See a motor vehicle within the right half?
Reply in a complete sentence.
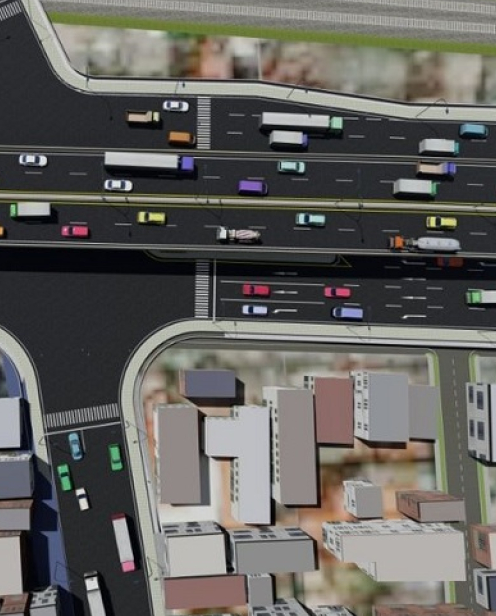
Yes, you'll find a motor vehicle within the right half.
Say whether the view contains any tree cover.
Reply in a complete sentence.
No, tree cover can't be seen anywhere here.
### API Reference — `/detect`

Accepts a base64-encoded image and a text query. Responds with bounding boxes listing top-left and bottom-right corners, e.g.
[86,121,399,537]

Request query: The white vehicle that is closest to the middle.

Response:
[240,304,267,316]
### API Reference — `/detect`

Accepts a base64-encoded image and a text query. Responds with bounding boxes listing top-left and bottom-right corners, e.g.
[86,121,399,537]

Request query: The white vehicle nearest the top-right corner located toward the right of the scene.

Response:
[416,139,460,157]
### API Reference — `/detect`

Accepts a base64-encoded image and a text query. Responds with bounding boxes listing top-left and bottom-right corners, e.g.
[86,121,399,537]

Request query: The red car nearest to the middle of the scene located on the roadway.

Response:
[242,284,268,296]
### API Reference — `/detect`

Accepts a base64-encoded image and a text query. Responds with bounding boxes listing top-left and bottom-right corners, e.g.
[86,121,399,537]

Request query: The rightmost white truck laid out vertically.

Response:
[111,512,137,574]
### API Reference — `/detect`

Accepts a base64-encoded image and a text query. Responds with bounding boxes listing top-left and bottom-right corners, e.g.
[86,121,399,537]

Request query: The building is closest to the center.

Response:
[180,369,235,397]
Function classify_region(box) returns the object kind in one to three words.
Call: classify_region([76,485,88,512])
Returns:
vehicle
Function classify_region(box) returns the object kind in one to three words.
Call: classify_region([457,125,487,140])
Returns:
vehicle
